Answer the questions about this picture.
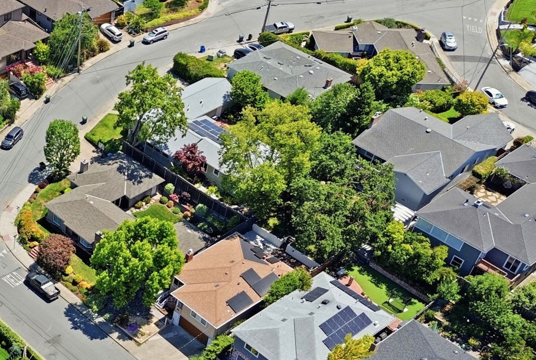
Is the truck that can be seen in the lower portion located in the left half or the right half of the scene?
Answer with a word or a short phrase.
left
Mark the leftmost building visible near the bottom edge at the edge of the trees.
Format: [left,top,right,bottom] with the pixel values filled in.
[168,235,296,348]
